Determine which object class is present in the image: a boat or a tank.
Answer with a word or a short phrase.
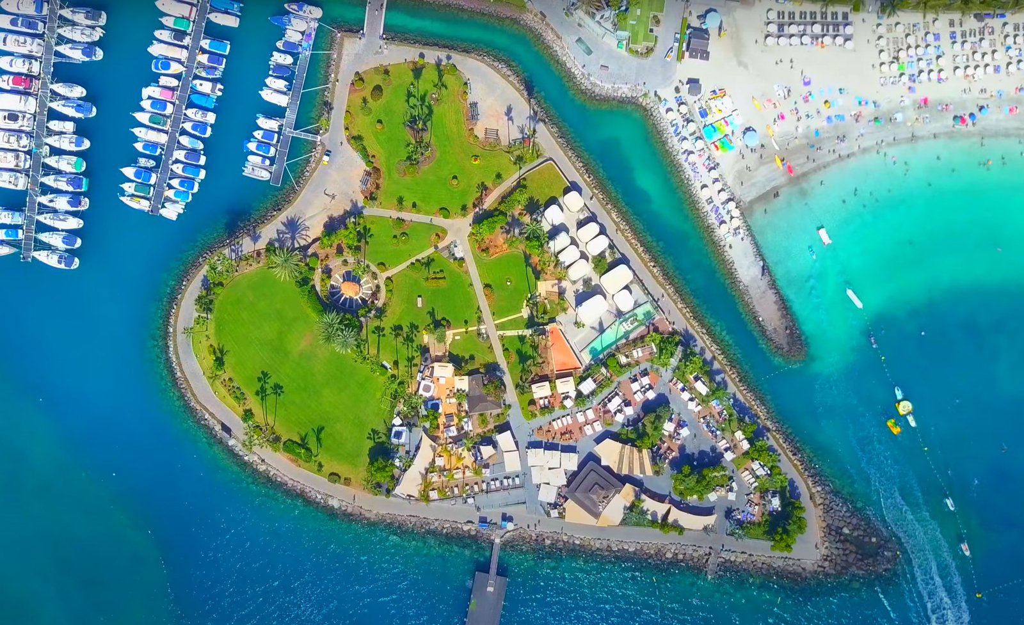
boat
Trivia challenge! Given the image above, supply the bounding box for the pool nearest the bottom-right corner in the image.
[581,302,657,363]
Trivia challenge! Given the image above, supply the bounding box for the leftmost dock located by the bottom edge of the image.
[466,538,508,625]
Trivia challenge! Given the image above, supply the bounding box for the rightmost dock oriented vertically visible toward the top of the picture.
[270,17,318,186]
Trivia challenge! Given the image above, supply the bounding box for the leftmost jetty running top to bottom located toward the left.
[21,0,61,262]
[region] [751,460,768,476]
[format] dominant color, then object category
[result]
white umbrella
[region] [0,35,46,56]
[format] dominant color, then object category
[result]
white boat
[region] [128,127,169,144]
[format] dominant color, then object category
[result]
white boat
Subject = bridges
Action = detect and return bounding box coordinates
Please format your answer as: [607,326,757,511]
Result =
[363,0,385,38]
